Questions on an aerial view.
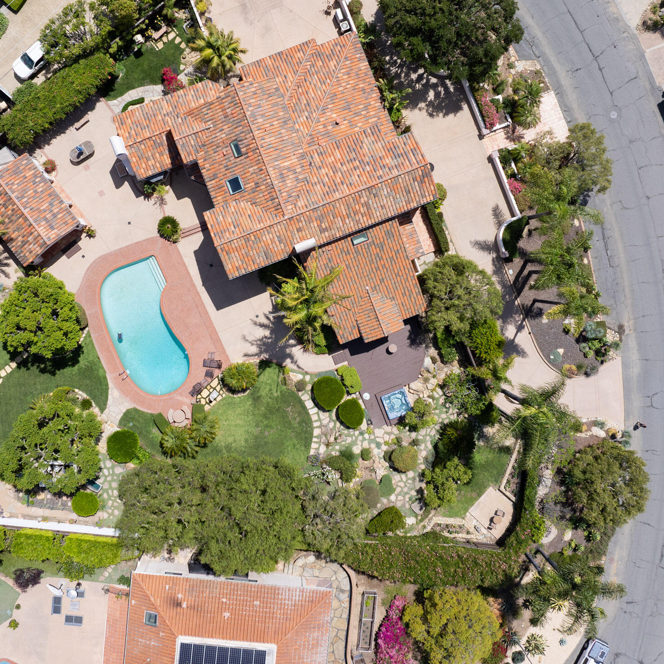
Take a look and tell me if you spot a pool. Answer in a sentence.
Yes, there's a pool here.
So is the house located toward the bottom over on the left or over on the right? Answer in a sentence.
The house located toward the bottom is on the left side of the image.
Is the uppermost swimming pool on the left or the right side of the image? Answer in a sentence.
It is on the left.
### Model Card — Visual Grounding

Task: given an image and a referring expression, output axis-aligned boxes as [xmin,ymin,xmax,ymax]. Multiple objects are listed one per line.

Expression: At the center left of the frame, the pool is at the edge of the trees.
[100,257,189,396]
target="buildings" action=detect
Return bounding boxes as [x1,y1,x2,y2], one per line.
[0,153,93,266]
[123,545,334,664]
[107,31,438,345]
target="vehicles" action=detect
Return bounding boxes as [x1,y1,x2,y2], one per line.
[572,633,609,664]
[14,29,58,84]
